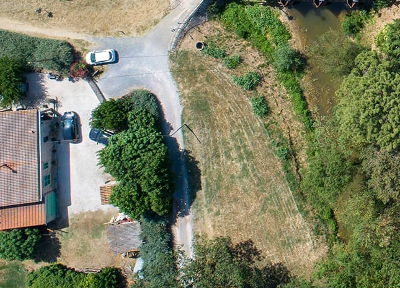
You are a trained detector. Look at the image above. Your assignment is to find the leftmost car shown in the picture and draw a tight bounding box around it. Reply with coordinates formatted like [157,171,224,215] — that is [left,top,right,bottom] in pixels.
[59,114,77,143]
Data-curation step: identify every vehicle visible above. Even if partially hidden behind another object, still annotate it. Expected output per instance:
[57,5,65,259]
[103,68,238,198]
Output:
[59,114,77,143]
[87,130,117,149]
[85,49,115,64]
